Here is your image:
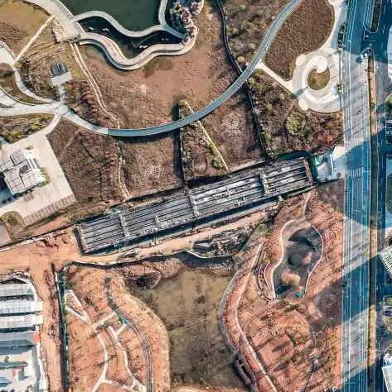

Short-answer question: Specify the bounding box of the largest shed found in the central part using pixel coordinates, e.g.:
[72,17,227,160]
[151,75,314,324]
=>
[79,158,316,252]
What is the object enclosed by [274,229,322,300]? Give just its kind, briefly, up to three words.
pond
